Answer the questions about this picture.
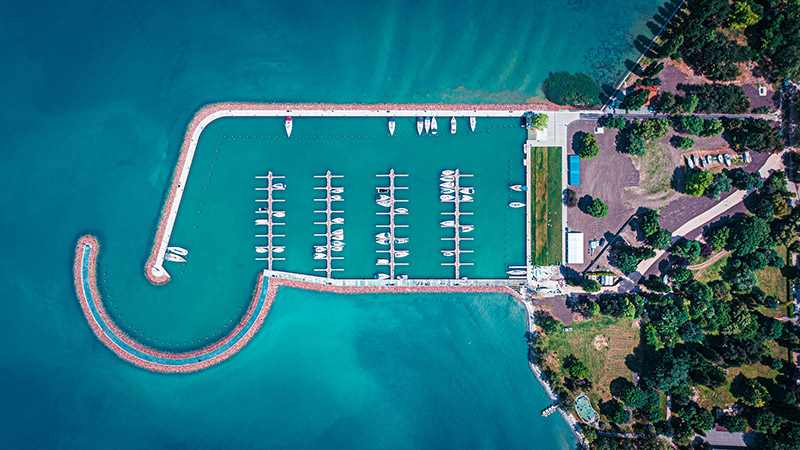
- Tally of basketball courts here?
0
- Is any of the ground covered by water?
Yes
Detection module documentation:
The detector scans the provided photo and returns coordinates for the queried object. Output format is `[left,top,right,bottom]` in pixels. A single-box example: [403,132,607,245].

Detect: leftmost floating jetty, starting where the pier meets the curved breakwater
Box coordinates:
[255,171,285,269]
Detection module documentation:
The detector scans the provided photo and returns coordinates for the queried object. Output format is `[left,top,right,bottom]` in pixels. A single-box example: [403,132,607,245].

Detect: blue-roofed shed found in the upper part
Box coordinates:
[566,155,580,186]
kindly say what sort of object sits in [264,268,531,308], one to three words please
pier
